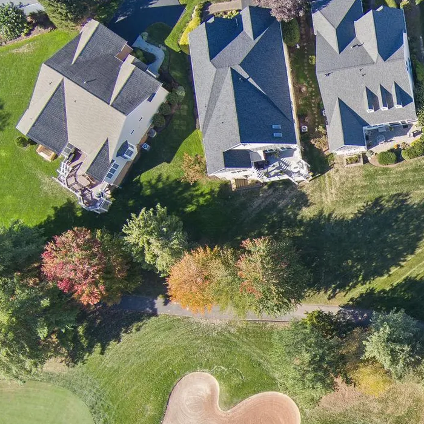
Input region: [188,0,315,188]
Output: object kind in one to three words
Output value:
house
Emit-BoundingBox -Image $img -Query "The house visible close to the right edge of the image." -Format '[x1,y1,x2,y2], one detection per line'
[310,0,423,155]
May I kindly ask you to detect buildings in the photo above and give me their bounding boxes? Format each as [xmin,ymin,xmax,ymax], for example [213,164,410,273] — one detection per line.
[188,0,315,188]
[15,19,171,217]
[310,0,423,155]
